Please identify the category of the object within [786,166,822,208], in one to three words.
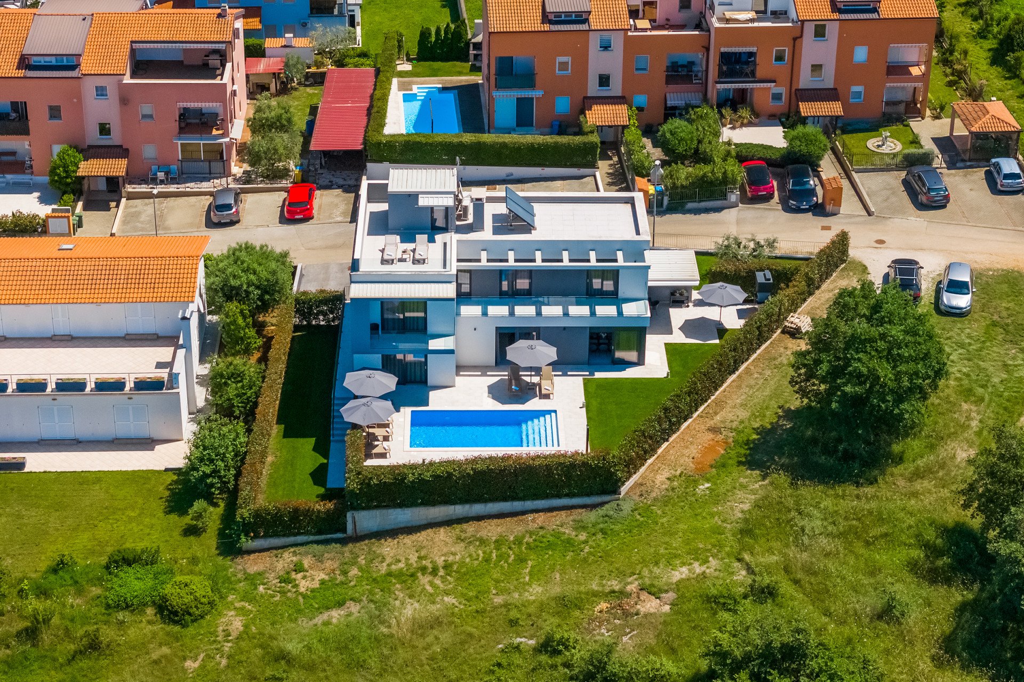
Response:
car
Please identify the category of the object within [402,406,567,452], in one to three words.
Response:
swimming pool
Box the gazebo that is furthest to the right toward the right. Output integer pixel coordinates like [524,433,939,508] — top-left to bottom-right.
[950,87,1021,169]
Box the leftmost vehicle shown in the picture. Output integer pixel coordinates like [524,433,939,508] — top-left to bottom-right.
[209,184,243,220]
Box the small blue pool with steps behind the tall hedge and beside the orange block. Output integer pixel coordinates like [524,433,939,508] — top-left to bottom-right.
[392,82,492,134]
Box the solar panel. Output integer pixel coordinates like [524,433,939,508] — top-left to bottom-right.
[505,187,535,231]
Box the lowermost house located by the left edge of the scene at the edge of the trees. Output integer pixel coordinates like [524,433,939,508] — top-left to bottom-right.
[0,234,207,444]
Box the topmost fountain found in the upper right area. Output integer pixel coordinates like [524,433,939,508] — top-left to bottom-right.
[866,129,903,154]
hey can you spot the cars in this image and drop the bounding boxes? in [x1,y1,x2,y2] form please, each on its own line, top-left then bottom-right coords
[997,157,1024,189]
[209,184,243,220]
[911,168,956,205]
[786,166,822,208]
[283,182,317,217]
[890,260,927,306]
[940,265,976,314]
[743,163,776,198]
